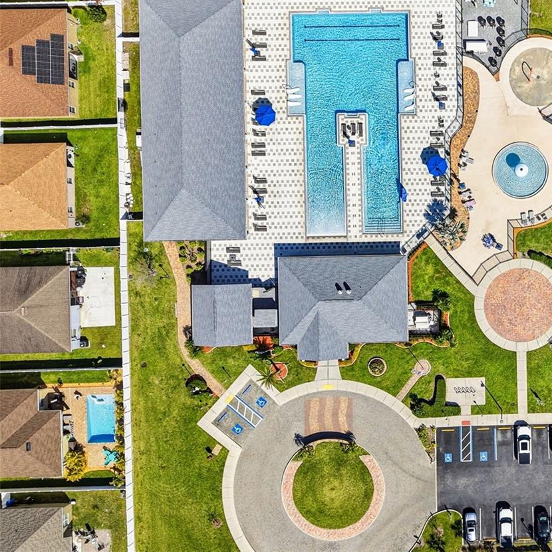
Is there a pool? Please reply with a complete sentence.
Yes, there's a pool down there.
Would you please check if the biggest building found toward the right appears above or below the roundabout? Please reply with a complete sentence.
The biggest building found toward the right is located above the roundabout in this view.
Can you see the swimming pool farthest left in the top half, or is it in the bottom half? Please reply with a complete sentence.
The swimming pool farthest left sits in the bottom half of the picture.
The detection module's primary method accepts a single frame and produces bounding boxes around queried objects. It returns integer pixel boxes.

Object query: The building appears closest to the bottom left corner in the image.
[0,504,73,552]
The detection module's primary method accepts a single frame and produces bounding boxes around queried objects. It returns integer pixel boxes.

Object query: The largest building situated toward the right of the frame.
[278,255,410,363]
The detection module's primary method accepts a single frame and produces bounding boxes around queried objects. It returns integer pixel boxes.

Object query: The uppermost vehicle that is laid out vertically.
[517,424,532,465]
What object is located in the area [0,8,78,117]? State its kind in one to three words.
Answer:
house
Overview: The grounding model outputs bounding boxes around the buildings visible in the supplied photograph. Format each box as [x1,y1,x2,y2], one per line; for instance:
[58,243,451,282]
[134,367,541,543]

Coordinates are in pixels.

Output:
[0,142,77,231]
[0,8,78,117]
[127,0,247,241]
[0,504,73,552]
[191,283,258,346]
[0,389,73,478]
[278,255,410,363]
[0,266,80,353]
